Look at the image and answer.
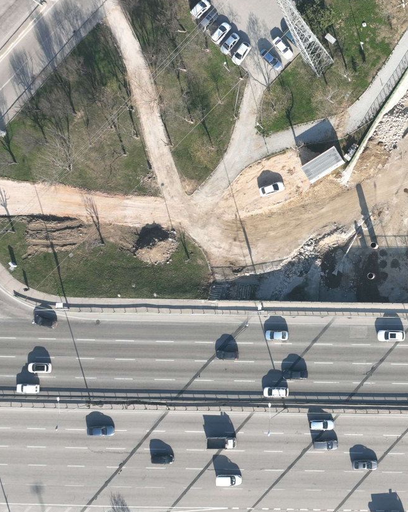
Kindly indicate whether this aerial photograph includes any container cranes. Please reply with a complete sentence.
No, there appears to be no container crane in this shot.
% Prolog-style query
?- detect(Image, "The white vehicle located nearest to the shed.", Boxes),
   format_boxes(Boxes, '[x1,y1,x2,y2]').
[258,180,284,196]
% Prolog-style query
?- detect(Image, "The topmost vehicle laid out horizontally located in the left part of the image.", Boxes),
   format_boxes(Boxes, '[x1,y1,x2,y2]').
[33,310,60,326]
